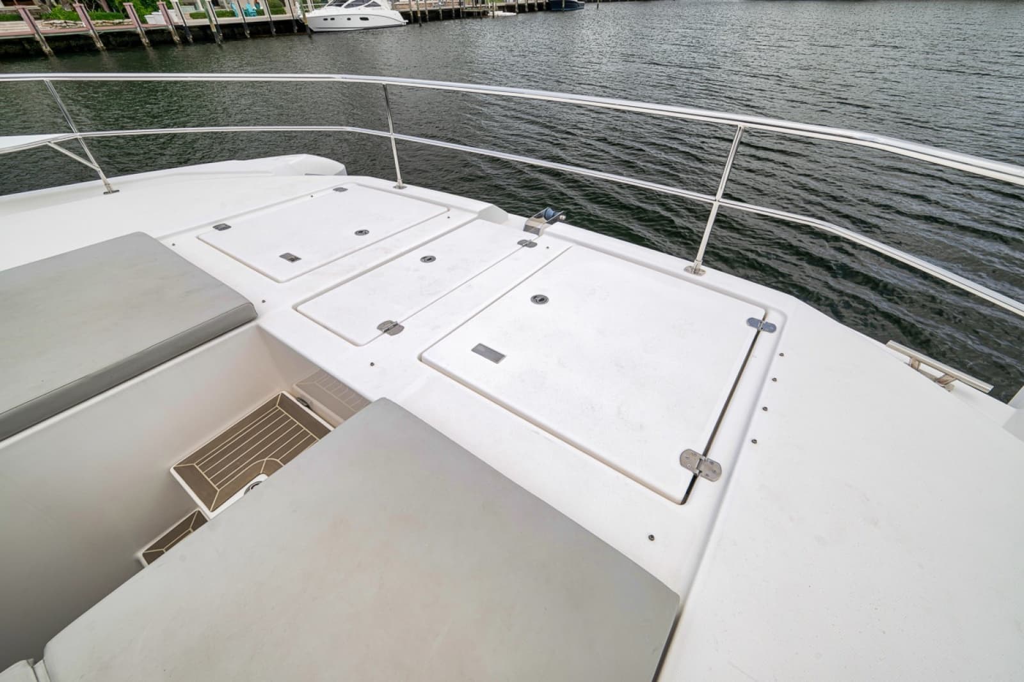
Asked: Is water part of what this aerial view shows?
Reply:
Yes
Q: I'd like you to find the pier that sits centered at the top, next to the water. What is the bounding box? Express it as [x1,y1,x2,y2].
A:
[403,0,554,22]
